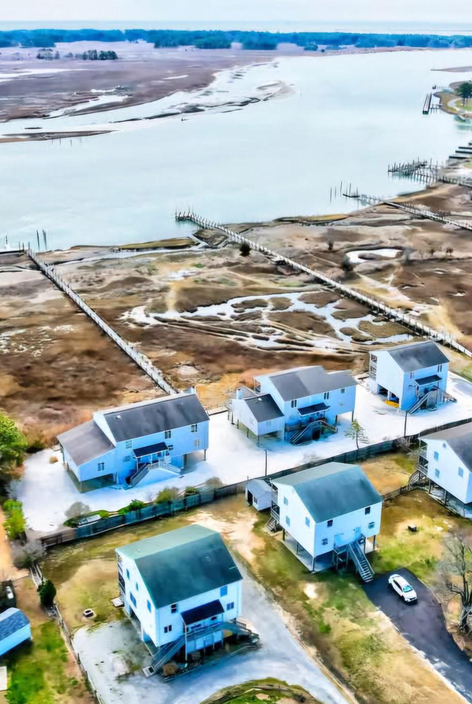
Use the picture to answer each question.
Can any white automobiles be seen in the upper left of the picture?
No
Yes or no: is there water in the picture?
Yes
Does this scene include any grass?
Yes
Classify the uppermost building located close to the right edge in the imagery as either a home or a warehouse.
home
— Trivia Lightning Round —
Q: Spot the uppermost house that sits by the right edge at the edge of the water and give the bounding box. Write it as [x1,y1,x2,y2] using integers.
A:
[368,340,453,412]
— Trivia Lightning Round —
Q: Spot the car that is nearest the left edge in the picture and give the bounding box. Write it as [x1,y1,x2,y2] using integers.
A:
[385,568,420,600]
